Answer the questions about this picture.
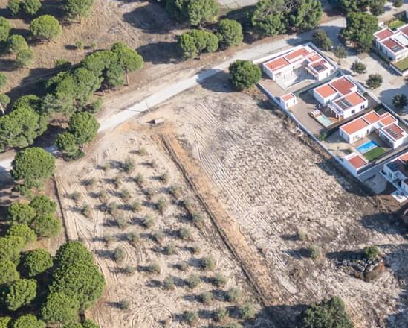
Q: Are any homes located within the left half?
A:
No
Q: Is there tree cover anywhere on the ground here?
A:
Yes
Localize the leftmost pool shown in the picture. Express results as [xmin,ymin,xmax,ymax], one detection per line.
[313,112,335,127]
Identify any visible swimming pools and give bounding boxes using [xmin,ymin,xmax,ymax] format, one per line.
[313,112,335,127]
[355,138,380,155]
